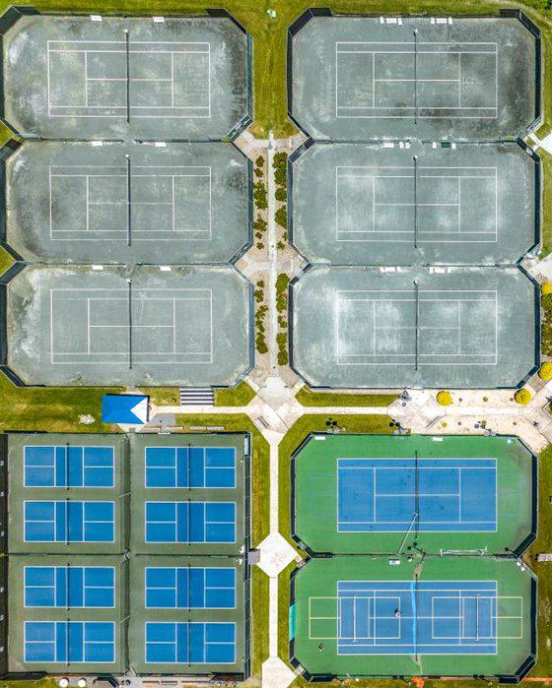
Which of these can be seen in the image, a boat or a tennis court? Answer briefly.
tennis court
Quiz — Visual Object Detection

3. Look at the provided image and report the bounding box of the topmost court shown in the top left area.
[5,15,246,140]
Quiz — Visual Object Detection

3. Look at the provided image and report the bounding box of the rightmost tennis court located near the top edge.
[293,16,540,141]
